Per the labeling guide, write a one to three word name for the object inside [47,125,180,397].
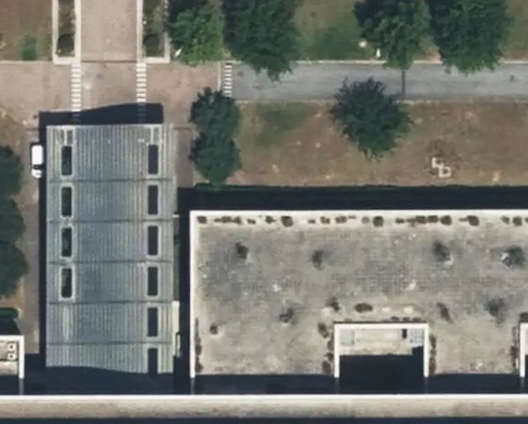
building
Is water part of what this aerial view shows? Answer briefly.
No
